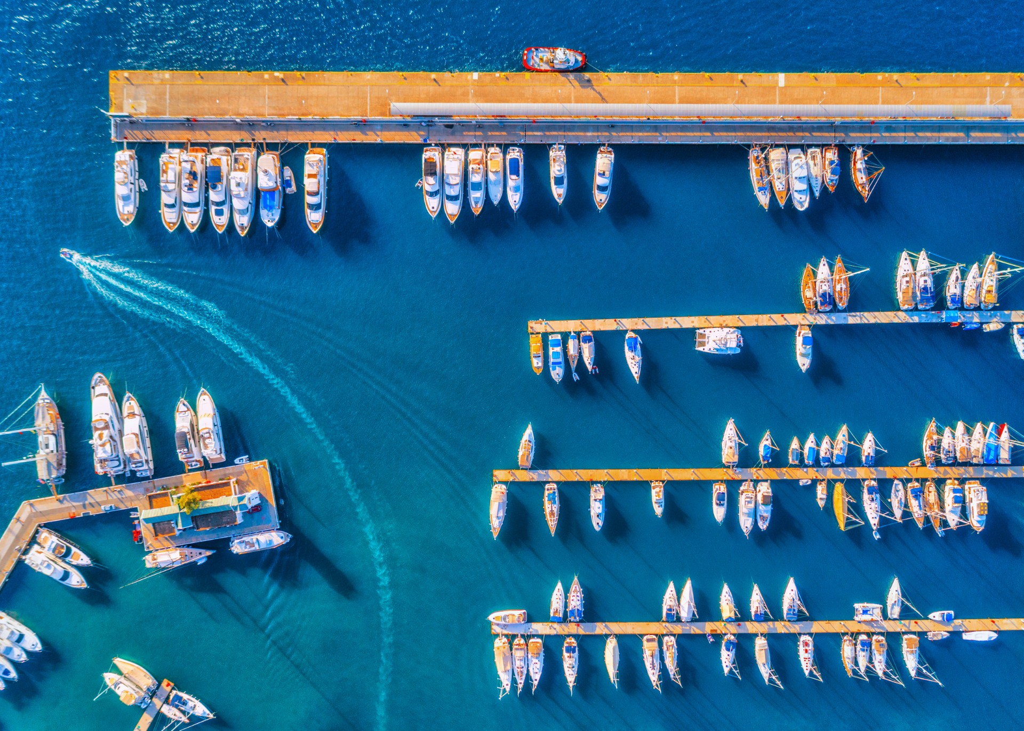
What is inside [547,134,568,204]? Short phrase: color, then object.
white boat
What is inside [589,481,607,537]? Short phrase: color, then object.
white boat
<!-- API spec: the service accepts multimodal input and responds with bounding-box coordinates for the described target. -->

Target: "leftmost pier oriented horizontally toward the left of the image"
[0,460,281,593]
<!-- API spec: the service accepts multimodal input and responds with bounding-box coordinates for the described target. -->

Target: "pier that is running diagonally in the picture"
[134,678,175,731]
